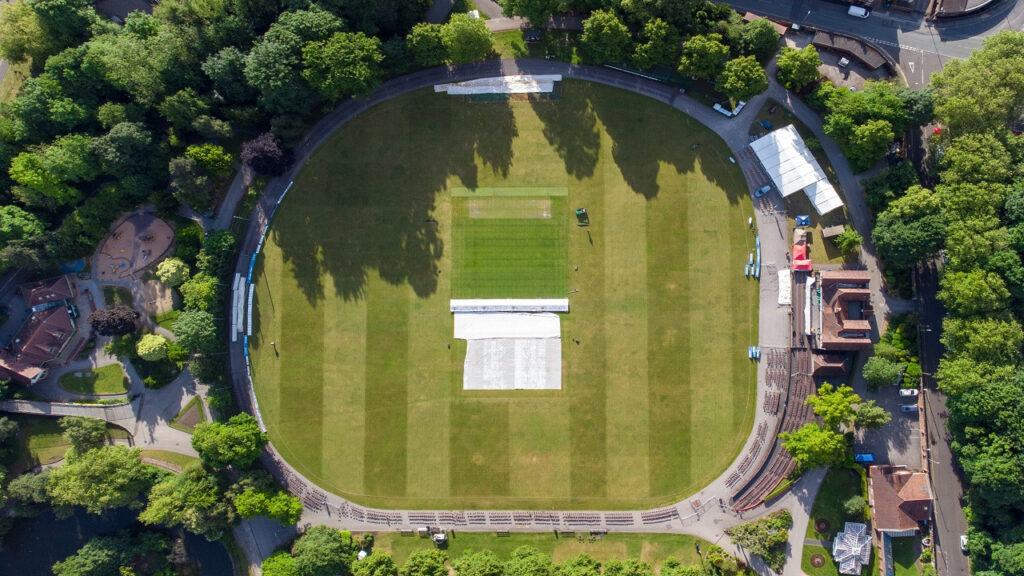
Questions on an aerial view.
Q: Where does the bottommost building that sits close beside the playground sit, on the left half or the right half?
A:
left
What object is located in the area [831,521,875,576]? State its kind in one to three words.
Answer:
greenhouse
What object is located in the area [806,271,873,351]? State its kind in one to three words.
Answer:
building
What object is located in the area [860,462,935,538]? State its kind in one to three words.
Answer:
house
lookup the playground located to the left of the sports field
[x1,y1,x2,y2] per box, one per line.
[96,212,172,281]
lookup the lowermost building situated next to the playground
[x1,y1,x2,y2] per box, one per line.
[0,274,83,390]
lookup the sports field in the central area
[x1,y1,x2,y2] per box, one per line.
[246,78,761,510]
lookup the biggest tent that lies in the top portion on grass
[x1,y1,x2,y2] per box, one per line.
[746,124,844,217]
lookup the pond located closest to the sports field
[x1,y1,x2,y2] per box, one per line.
[0,507,233,576]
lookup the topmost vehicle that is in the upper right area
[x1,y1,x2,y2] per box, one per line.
[849,4,871,16]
